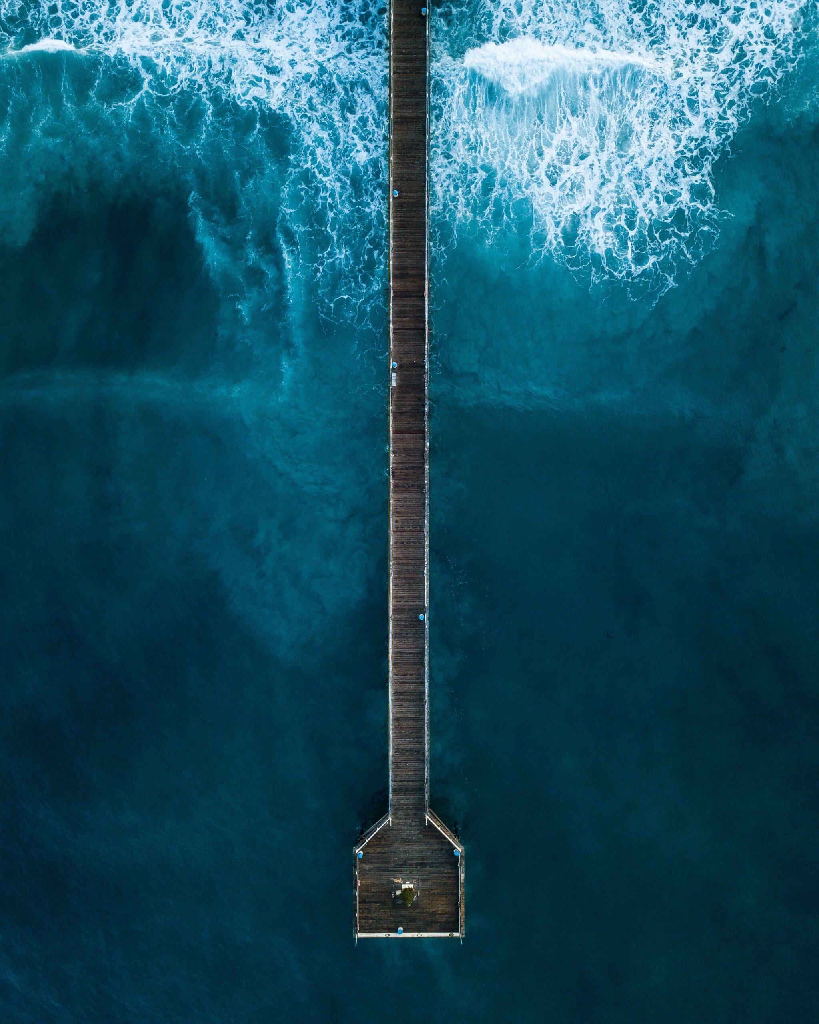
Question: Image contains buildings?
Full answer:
No, the photo shows no building.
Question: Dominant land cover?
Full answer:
What you mostly see from above here is water.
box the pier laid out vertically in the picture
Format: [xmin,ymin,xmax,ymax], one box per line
[353,0,465,938]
